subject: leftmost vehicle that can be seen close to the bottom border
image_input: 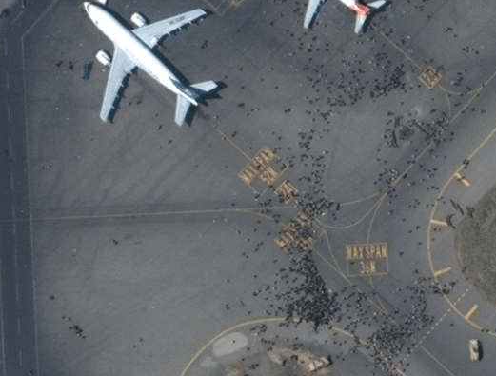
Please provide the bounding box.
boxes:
[305,358,329,373]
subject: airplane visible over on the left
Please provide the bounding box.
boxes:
[85,2,220,124]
